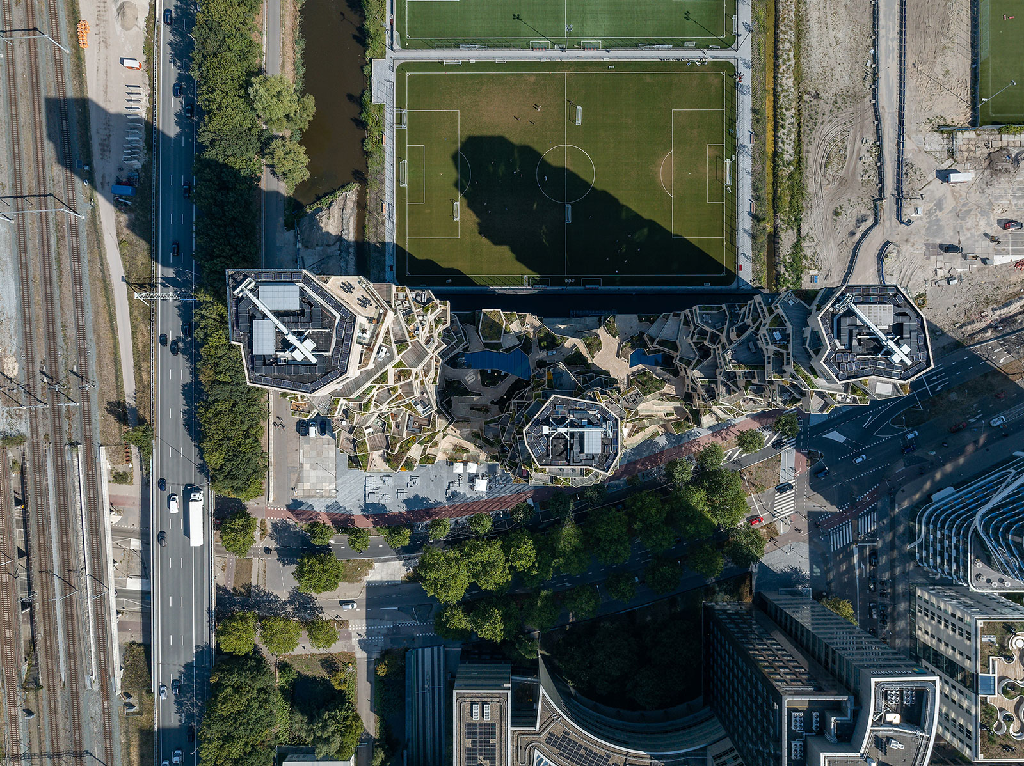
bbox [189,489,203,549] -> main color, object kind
white vehicle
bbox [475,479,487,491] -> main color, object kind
white umbrella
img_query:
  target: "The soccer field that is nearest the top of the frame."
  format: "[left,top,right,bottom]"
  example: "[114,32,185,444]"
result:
[396,0,736,48]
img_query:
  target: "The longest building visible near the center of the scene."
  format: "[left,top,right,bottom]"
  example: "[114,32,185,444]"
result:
[225,268,934,486]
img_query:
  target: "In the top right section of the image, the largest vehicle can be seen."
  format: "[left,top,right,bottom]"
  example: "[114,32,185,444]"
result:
[943,171,974,183]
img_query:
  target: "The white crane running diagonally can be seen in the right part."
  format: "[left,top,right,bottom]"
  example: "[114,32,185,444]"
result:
[834,292,914,366]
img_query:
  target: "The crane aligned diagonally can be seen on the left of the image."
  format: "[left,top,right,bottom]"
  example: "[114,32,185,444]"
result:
[231,276,318,363]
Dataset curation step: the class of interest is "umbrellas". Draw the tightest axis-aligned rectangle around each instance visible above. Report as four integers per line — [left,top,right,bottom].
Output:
[467,463,477,473]
[453,463,463,472]
[475,479,487,491]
